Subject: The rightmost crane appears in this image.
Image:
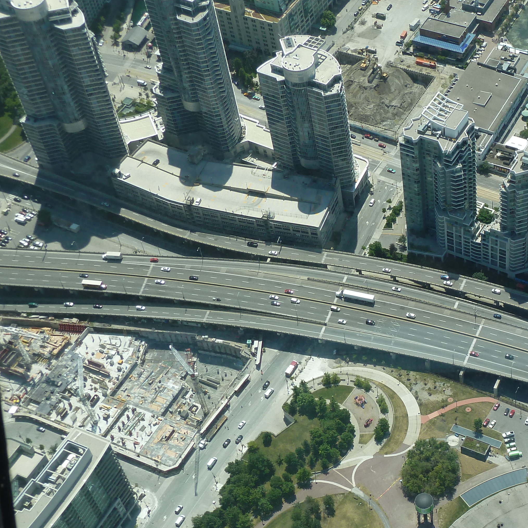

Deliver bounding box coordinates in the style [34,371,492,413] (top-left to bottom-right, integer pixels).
[169,345,209,420]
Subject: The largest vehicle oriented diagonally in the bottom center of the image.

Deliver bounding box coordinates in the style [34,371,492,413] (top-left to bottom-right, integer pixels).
[199,416,228,445]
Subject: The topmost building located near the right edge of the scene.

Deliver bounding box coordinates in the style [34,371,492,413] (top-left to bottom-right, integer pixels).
[439,0,509,35]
